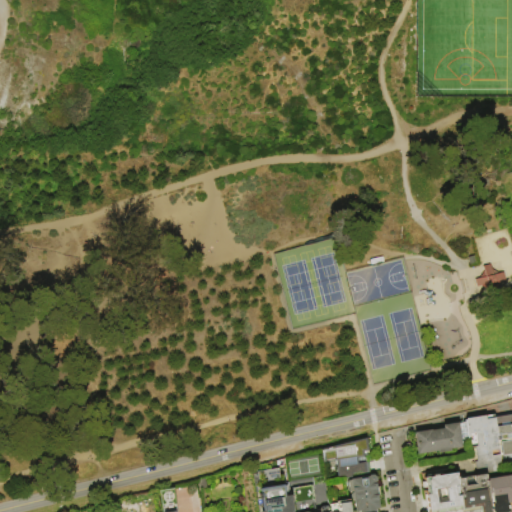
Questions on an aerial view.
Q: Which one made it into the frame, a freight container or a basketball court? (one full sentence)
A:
Of the two, only a basketball court appears.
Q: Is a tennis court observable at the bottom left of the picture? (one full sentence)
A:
No, at the bottom left of the picture there is no tennis court.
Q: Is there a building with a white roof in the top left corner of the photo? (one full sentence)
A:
No, looking in the top left corner of the photo, there is no building with a white roof.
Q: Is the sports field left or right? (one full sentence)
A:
The sports field appears in the right half of the scene.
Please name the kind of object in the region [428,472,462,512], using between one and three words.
house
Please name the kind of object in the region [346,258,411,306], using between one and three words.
basketball court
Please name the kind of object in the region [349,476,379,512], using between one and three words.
house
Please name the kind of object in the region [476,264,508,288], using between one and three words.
building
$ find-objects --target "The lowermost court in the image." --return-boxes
[288,456,322,478]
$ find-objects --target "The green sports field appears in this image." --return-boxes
[418,0,512,95]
